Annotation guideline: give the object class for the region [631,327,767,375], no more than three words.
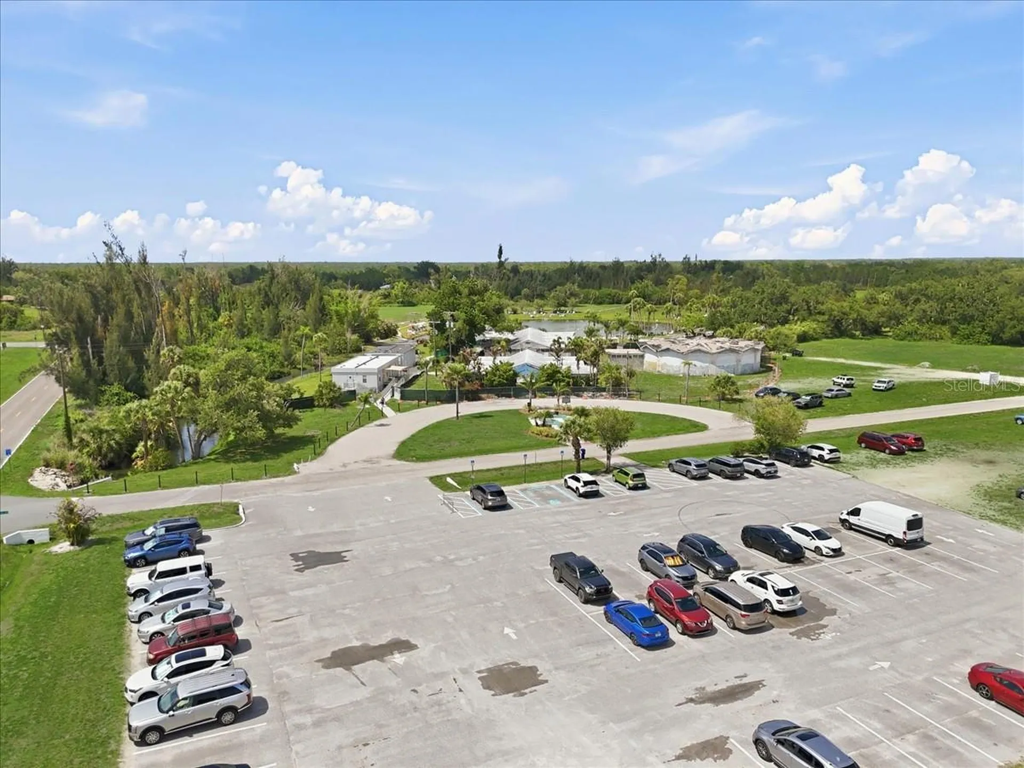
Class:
building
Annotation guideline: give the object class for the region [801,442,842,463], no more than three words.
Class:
car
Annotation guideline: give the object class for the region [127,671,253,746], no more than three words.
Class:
car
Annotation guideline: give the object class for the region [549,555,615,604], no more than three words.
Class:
truck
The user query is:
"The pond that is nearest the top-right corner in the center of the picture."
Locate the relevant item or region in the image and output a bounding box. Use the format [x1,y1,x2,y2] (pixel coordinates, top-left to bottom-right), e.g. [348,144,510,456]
[509,320,677,338]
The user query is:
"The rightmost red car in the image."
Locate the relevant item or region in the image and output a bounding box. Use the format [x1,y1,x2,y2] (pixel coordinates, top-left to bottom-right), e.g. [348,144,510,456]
[967,662,1024,714]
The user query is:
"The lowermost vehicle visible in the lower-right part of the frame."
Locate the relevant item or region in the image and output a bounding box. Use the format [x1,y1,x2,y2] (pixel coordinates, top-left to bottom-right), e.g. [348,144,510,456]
[749,721,861,768]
